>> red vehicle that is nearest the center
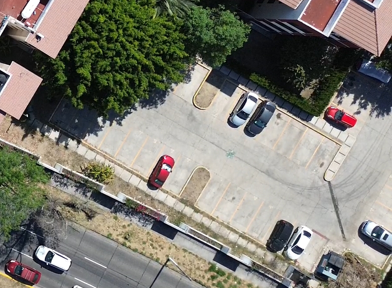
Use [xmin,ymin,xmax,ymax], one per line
[146,154,174,190]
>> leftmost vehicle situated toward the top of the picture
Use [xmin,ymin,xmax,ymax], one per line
[226,90,259,127]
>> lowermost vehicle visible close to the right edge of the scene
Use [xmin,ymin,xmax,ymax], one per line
[355,219,392,250]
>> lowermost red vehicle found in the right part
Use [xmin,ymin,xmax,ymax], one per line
[322,105,356,128]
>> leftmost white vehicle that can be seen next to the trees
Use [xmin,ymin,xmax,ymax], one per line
[33,244,72,273]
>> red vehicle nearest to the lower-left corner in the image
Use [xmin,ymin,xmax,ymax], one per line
[4,259,42,286]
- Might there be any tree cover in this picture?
Yes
